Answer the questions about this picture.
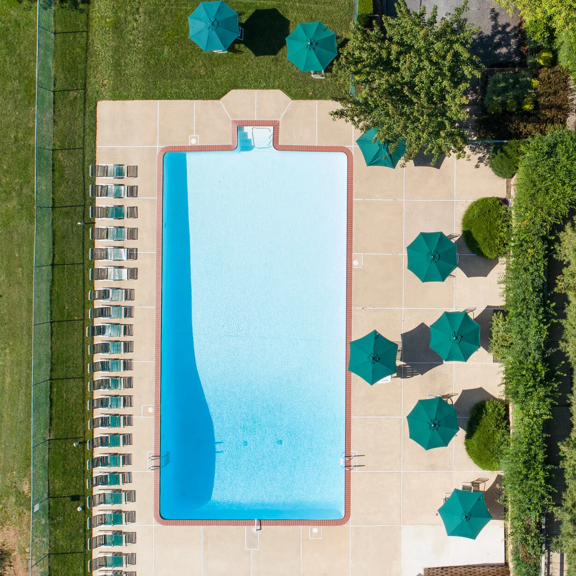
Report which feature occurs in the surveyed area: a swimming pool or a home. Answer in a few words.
swimming pool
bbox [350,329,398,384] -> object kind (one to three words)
umbrella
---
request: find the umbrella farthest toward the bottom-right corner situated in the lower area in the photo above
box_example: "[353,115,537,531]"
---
[437,486,492,539]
